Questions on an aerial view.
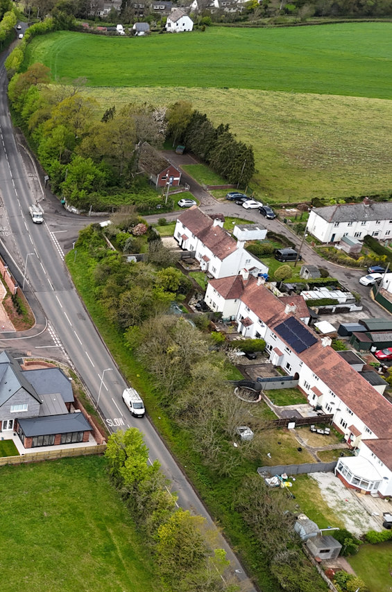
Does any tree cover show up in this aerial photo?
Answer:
Yes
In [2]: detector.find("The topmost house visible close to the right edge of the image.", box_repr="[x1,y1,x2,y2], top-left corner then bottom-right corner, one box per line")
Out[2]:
[306,192,392,242]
